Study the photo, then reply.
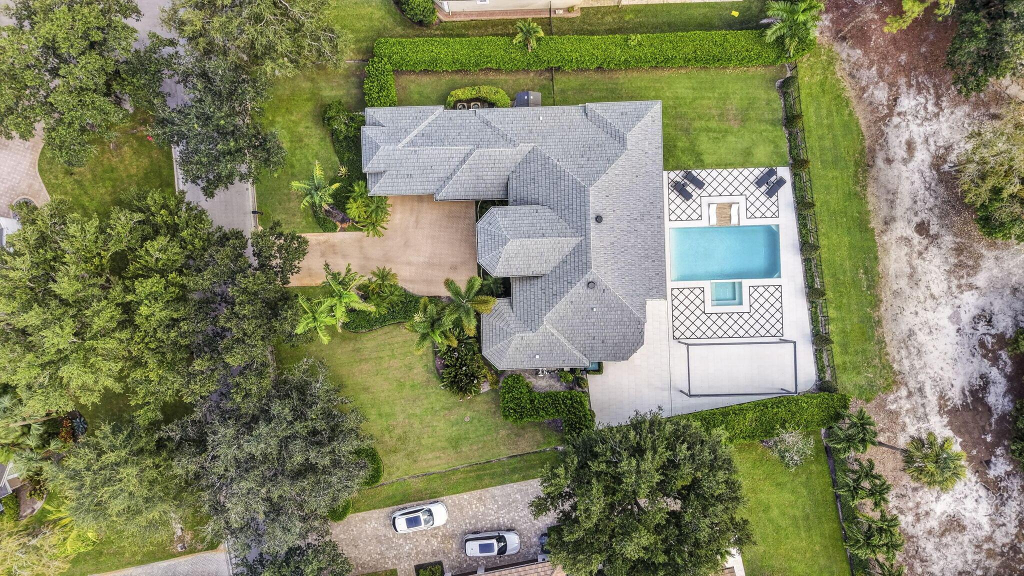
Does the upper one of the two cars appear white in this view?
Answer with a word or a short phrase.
Yes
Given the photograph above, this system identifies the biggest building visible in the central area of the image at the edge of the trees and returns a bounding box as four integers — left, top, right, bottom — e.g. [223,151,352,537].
[361,100,668,371]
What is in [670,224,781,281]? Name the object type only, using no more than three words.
swimming pool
